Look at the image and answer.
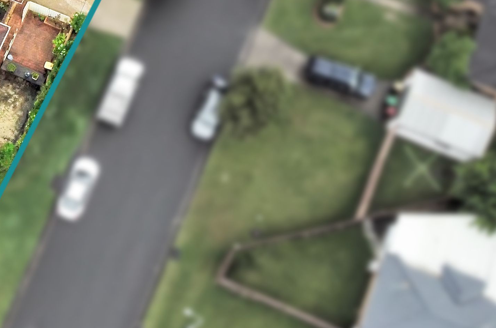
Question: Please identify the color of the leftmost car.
white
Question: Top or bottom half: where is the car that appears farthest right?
top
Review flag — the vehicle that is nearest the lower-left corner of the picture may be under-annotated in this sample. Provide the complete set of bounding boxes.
[56,158,99,222]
